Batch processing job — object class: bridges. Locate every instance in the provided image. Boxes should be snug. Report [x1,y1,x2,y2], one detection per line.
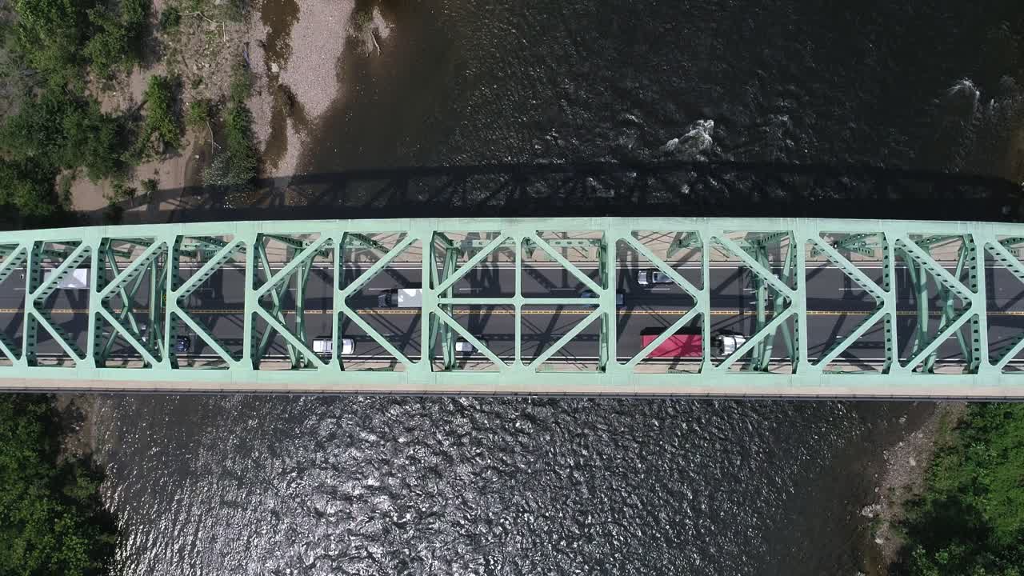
[0,217,1024,403]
